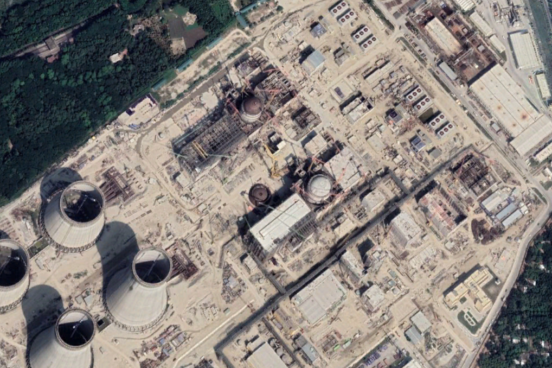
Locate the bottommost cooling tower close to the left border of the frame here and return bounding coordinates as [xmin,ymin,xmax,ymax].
[25,306,97,368]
